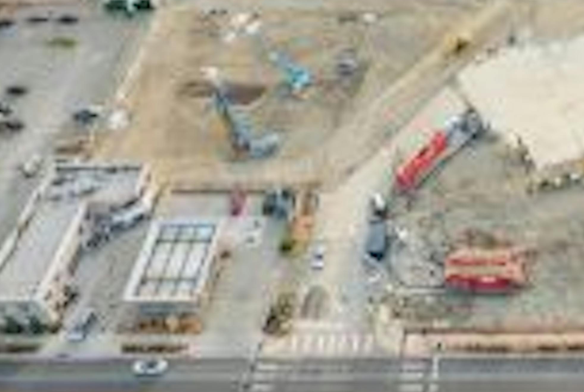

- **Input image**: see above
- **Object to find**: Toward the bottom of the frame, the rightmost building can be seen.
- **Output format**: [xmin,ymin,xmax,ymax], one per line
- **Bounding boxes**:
[123,220,228,323]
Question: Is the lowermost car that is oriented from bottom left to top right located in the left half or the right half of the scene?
left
